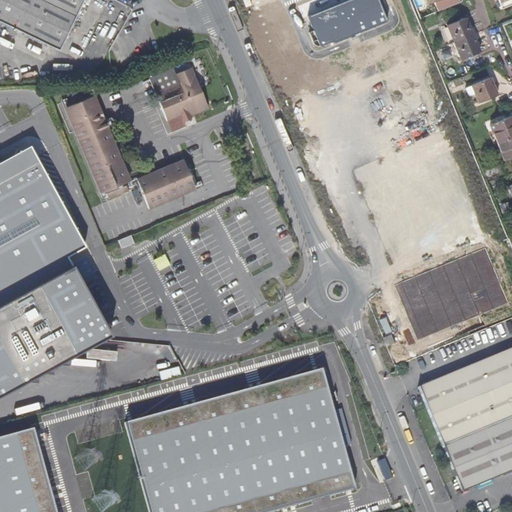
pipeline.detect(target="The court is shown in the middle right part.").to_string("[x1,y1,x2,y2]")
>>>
[396,248,507,338]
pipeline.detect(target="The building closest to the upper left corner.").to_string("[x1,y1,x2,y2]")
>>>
[0,0,84,50]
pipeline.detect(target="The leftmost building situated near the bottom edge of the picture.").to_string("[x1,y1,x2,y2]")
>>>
[0,428,57,512]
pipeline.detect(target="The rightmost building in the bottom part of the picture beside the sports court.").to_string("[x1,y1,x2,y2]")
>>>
[417,346,512,490]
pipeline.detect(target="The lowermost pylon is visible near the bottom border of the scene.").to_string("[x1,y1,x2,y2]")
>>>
[90,488,118,512]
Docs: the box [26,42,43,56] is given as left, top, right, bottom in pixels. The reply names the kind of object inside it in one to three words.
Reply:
vehicle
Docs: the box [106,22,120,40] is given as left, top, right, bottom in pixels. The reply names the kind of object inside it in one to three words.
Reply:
vehicle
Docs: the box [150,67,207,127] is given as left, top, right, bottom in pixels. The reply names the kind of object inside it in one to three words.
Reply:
building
